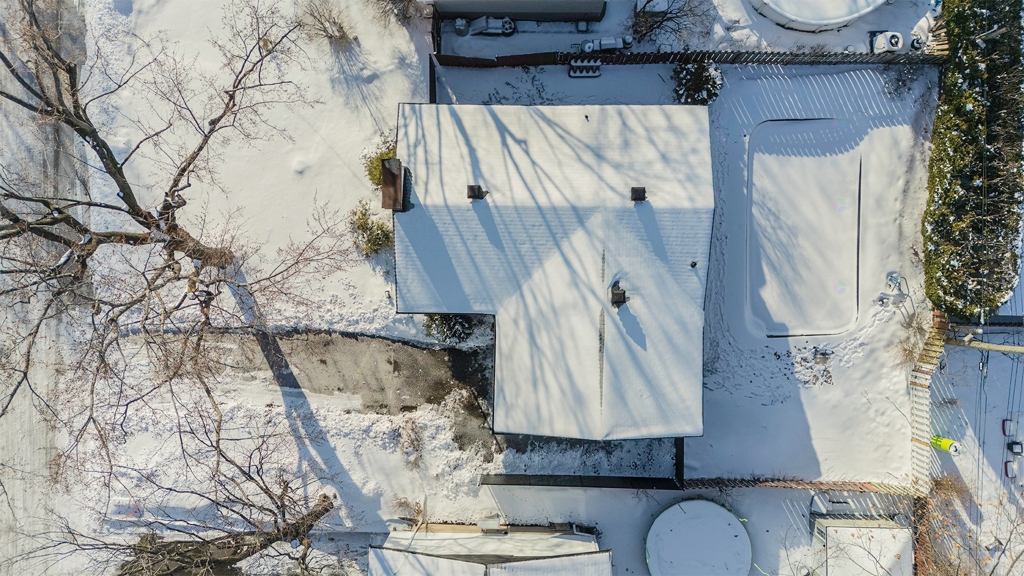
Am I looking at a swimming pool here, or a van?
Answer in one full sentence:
It is a swimming pool that can be seen here.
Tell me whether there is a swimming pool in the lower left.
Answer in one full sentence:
No, in the lower left there is no swimming pool.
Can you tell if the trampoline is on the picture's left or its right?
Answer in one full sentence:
The trampoline is on the right side of the image.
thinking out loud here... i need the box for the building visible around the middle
[383,102,715,442]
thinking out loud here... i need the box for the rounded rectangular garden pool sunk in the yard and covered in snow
[739,118,867,349]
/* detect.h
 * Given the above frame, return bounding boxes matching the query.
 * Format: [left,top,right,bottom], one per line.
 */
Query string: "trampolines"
[643,499,771,576]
